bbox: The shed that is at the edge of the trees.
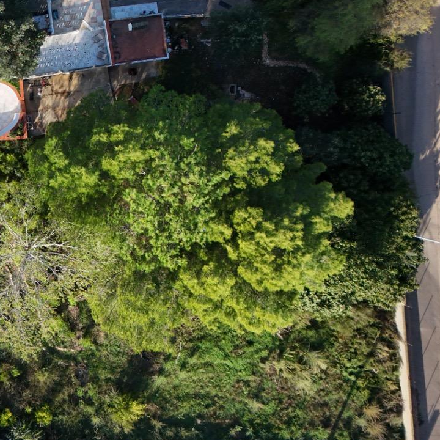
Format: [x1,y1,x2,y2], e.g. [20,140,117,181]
[104,13,170,68]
